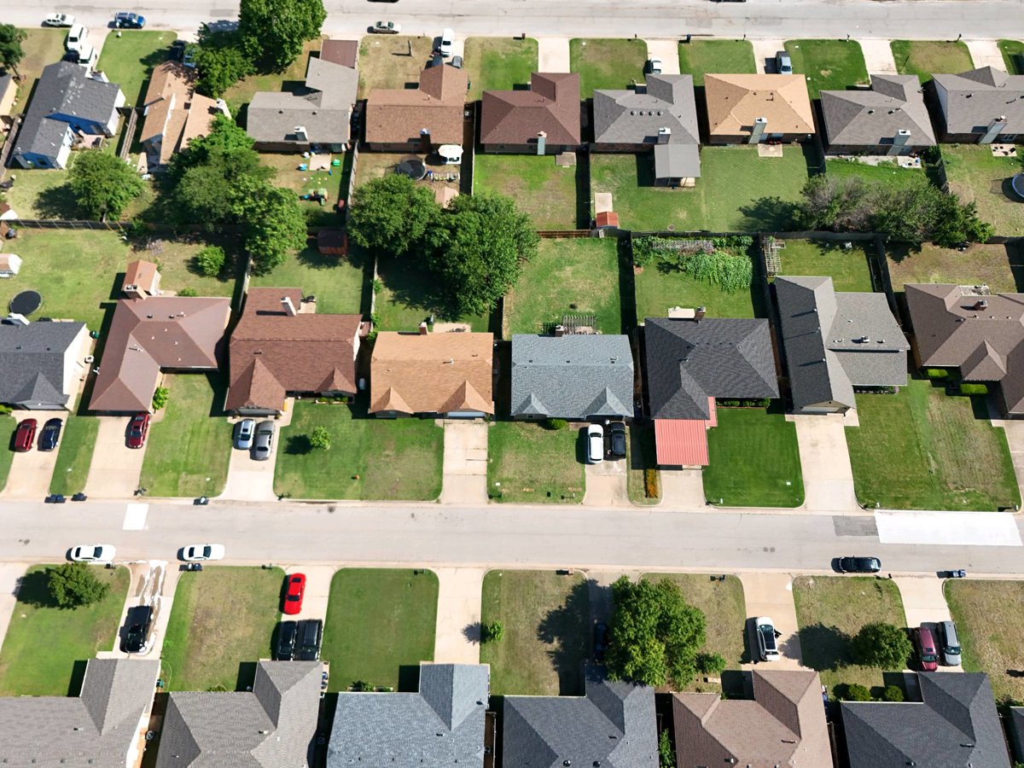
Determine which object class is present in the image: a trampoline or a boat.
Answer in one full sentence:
This aerial view contains a trampoline.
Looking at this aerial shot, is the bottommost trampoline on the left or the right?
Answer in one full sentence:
You can find the bottommost trampoline on the left side of the picture.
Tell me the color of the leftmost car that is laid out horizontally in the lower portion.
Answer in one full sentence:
The leftmost car that is laid out horizontally in the lower portion looks white in the image.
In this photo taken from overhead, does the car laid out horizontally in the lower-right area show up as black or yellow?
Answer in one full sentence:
The car laid out horizontally in the lower-right area is black.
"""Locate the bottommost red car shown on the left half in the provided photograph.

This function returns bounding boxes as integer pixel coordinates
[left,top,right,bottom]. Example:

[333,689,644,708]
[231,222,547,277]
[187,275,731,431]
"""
[284,573,306,615]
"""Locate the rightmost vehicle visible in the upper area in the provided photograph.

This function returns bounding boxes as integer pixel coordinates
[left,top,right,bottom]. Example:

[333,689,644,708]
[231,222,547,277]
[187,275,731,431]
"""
[775,53,791,74]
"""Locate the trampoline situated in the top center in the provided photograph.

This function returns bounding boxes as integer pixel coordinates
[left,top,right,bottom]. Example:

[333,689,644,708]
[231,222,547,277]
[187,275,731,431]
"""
[397,153,426,180]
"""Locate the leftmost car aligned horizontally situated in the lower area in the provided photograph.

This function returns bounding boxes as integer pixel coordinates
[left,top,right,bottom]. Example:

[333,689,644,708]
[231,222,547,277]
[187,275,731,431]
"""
[71,544,116,564]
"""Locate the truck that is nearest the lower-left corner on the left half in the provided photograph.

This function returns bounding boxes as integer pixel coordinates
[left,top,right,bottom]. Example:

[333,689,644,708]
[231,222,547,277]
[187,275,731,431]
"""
[124,603,153,655]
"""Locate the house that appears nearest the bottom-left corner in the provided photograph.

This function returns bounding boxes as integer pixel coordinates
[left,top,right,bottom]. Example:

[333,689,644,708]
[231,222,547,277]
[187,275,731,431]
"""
[0,657,167,768]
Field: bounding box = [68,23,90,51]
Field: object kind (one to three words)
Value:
vehicle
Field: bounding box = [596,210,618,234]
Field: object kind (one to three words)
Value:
shed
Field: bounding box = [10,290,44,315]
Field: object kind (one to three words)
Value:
trampoline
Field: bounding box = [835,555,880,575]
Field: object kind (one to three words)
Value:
car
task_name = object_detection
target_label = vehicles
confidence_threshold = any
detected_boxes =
[234,417,256,451]
[835,555,880,575]
[182,46,199,67]
[38,418,64,452]
[609,422,627,457]
[82,44,104,73]
[429,55,443,67]
[452,55,464,71]
[440,32,454,56]
[910,627,939,671]
[372,22,401,35]
[284,573,306,615]
[254,421,276,460]
[274,619,299,661]
[46,13,76,28]
[650,58,663,74]
[127,415,151,449]
[586,427,604,463]
[775,53,791,74]
[181,543,225,563]
[71,544,116,564]
[298,619,322,662]
[754,617,783,661]
[170,39,187,61]
[65,48,82,65]
[124,603,153,655]
[11,418,40,453]
[115,14,148,29]
[934,621,963,665]
[68,23,90,51]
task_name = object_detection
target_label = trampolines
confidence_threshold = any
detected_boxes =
[10,290,44,315]
[1010,167,1024,197]
[397,153,426,180]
